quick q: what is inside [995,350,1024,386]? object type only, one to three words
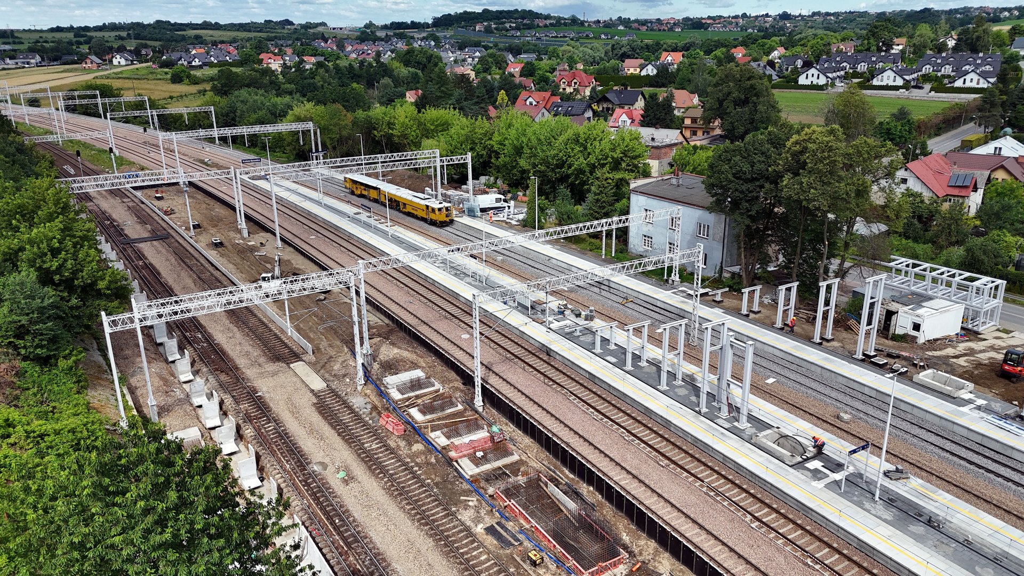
work vehicle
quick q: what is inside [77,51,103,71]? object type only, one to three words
house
